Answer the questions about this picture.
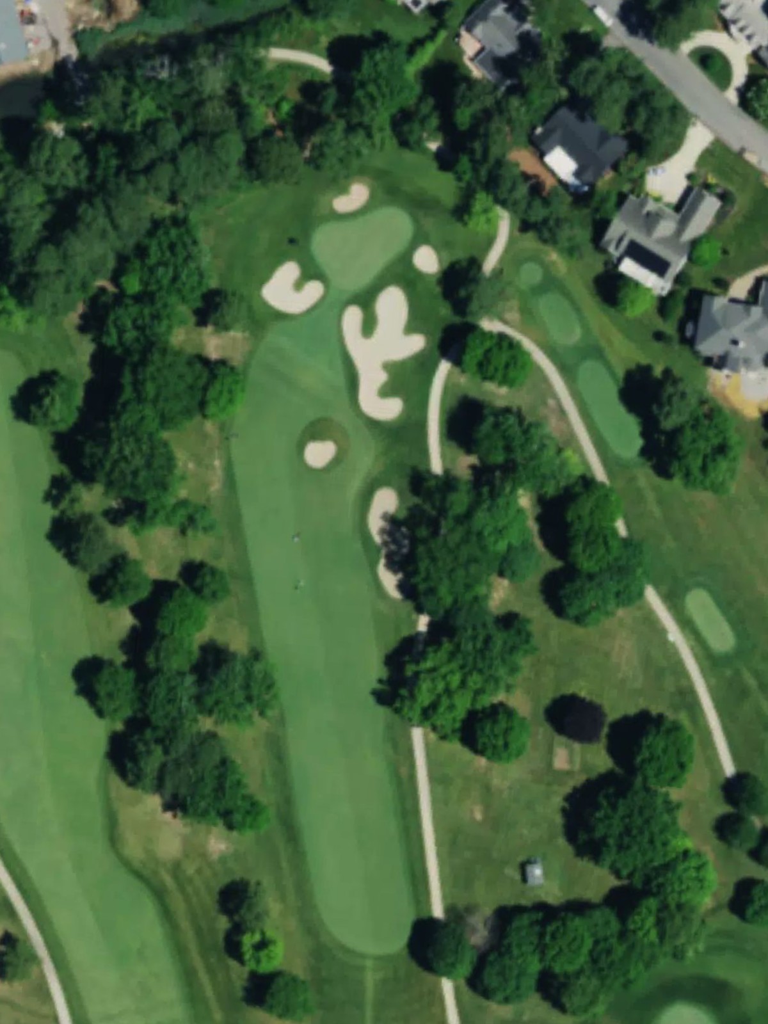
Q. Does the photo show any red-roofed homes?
No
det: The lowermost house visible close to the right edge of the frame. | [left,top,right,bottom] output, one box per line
[692,268,768,375]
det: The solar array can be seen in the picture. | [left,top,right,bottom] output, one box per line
[625,240,672,277]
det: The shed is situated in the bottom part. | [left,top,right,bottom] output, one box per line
[525,856,543,887]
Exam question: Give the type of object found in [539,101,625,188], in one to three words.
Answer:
house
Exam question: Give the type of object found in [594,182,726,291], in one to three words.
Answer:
house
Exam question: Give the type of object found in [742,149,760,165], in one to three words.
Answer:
car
